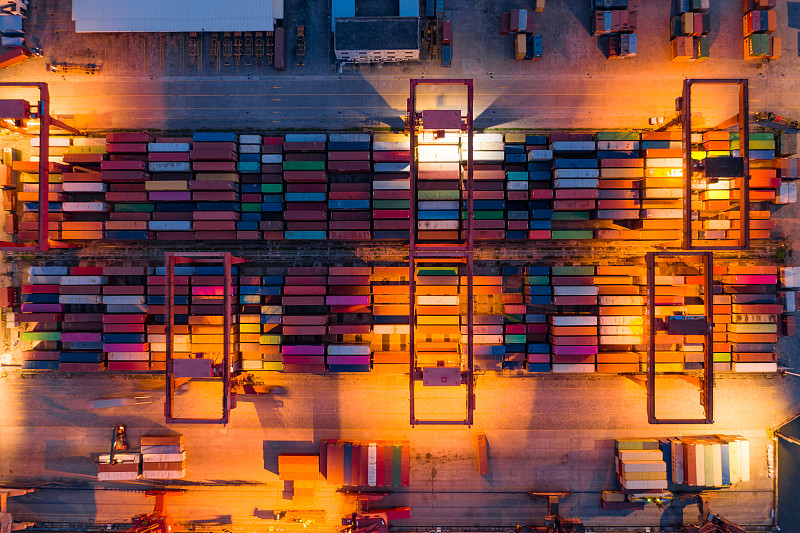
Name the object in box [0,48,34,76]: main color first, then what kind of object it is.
red shipping container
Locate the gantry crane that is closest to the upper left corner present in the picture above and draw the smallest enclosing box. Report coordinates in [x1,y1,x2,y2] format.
[0,82,98,251]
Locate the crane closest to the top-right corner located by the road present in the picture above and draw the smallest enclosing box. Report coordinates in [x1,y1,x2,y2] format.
[645,79,751,251]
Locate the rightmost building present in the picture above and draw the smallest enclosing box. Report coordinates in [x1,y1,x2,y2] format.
[333,0,419,60]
